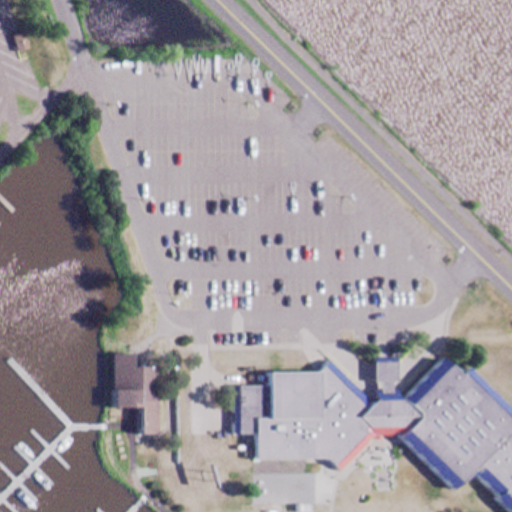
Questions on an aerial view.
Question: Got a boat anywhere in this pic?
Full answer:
Yes, the picture does show a boat.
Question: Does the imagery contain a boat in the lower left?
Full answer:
Yes, a boat is visible in the lower left.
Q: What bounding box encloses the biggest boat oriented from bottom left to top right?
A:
[56,436,74,454]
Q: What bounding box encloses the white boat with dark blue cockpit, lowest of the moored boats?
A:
[17,489,38,510]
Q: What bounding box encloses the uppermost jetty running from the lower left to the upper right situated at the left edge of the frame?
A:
[0,426,74,503]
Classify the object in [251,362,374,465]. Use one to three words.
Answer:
building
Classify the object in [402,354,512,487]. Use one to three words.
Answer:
building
